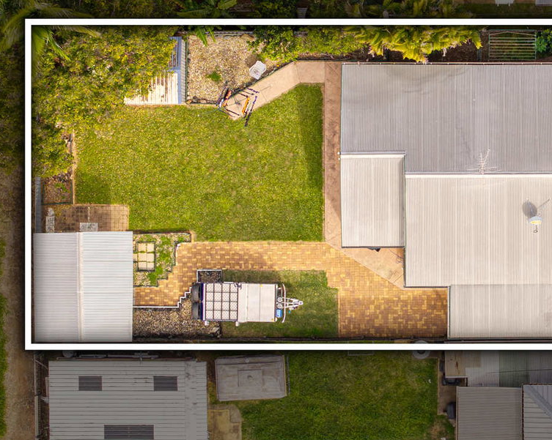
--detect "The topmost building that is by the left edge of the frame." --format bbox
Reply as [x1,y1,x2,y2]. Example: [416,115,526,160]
[27,231,134,345]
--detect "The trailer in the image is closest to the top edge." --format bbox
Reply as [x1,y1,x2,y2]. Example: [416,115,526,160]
[191,282,303,327]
